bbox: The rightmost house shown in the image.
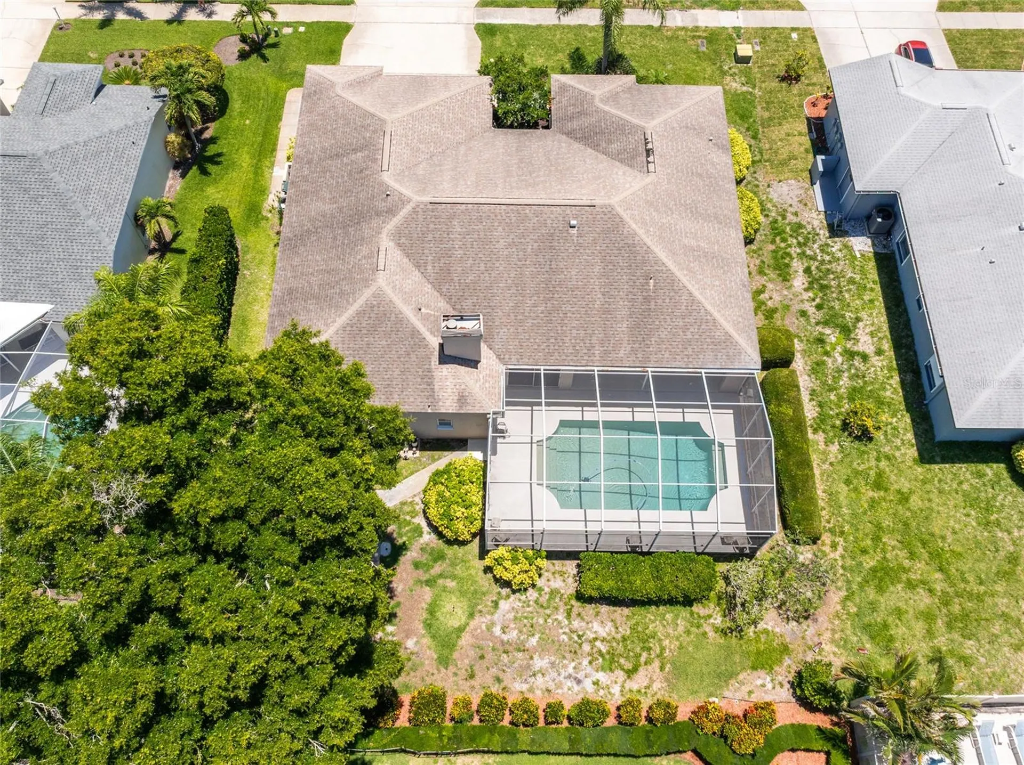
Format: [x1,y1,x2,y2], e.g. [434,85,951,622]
[820,51,1024,450]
